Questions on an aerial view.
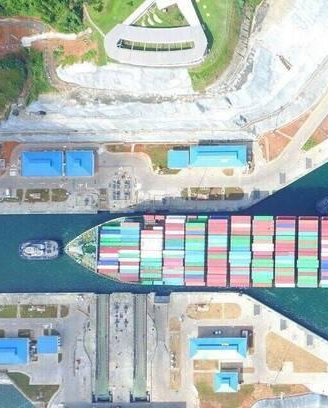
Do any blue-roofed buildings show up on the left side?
Yes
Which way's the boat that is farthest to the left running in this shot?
horizontally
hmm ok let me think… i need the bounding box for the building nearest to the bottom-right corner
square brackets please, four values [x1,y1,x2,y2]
[214,371,240,392]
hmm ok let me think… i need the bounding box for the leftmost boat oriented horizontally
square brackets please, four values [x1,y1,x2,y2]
[18,240,60,259]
